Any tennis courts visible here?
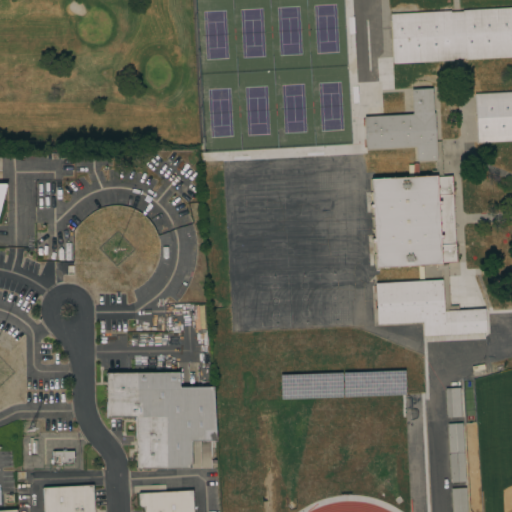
Yes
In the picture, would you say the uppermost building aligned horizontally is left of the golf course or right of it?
to its right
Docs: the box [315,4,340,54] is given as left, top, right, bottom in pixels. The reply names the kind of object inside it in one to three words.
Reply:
tennis court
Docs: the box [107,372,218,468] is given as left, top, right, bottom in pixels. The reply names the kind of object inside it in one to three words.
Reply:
building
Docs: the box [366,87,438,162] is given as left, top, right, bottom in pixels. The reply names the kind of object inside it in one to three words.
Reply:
building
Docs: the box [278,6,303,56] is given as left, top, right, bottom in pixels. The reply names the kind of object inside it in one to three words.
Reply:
tennis court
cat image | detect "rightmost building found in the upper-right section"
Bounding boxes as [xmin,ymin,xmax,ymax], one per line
[476,92,512,142]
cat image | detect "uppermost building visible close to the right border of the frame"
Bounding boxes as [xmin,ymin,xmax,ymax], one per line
[392,8,512,63]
